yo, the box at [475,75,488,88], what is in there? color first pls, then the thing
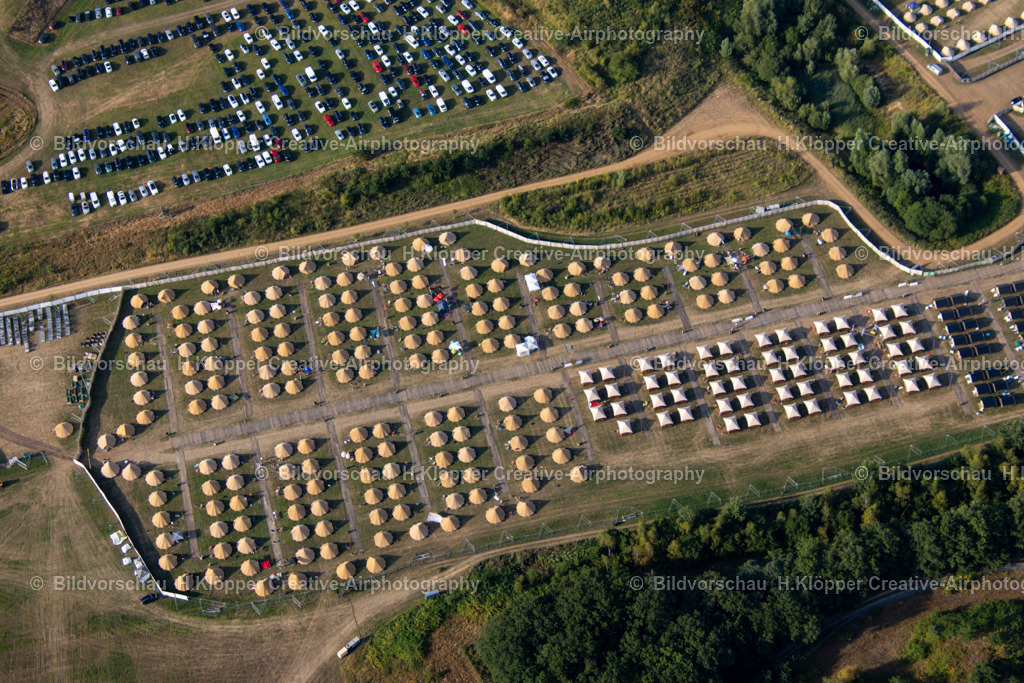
black vehicle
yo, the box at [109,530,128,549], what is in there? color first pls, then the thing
white gazebo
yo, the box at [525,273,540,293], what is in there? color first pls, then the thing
white gazebo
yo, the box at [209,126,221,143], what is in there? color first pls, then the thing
white vehicle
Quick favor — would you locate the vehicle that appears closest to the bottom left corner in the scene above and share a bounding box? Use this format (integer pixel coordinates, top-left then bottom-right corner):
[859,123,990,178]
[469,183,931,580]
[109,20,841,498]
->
[139,591,159,604]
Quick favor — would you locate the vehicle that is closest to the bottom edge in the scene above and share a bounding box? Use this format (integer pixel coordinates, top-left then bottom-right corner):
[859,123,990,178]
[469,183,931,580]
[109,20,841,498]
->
[336,635,362,658]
